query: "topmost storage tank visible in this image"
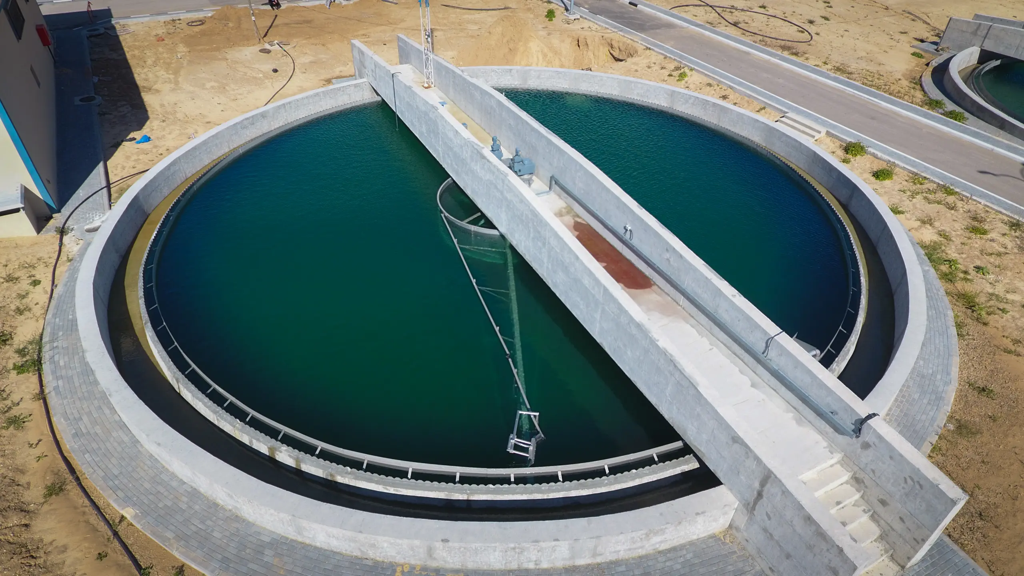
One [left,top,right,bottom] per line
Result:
[946,42,1024,169]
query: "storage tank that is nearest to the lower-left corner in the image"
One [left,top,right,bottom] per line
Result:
[74,64,927,571]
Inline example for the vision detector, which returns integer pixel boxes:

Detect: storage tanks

[946,42,1024,169]
[74,64,927,571]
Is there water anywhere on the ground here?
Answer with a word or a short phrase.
Yes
